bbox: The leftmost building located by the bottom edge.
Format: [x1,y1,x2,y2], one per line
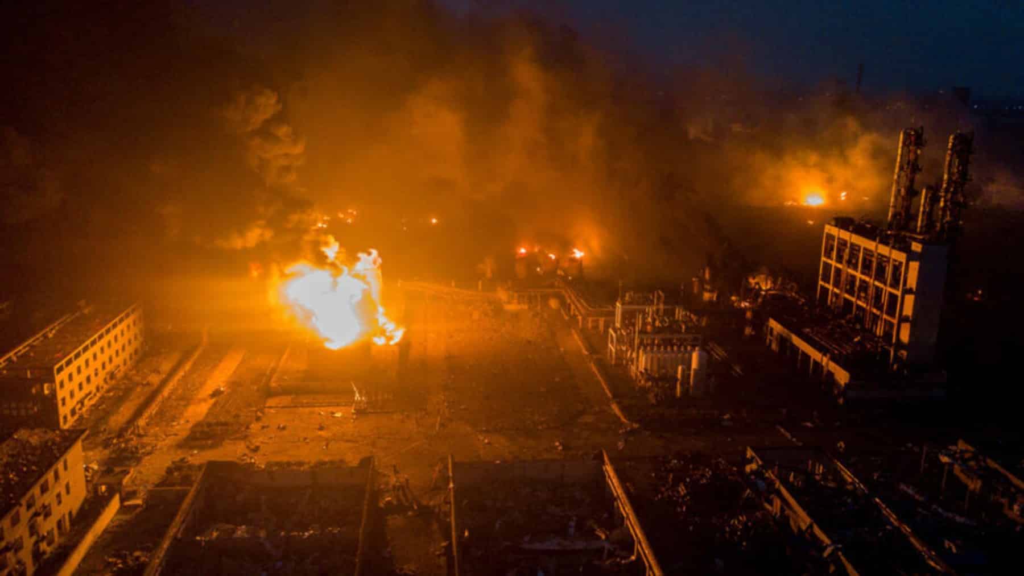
[0,422,87,576]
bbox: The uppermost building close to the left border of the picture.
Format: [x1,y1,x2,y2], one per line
[0,304,142,428]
